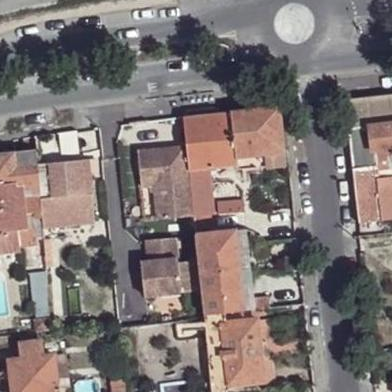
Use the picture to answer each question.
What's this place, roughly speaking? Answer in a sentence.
The area seen from above is a residential area.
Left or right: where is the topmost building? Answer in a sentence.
The topmost building appears in the right half of the scene.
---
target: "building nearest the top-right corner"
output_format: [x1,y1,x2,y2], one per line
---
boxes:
[352,96,392,120]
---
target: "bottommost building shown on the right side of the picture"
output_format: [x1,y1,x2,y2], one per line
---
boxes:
[206,312,276,392]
